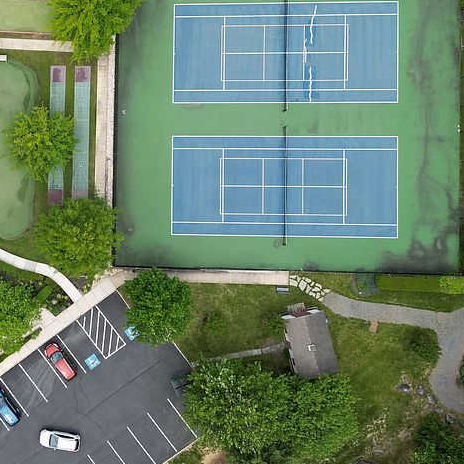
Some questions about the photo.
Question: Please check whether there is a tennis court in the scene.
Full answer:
Yes, a tennis court is visible in the scene.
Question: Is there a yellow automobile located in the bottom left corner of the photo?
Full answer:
No, no yellow automobile can be made out in the bottom left corner of the photo.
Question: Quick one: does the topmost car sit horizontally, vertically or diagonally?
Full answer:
In this picture, the topmost car lies diagonally.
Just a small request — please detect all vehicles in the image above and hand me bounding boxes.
[38,427,82,450]
[43,341,78,380]
[0,385,23,427]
